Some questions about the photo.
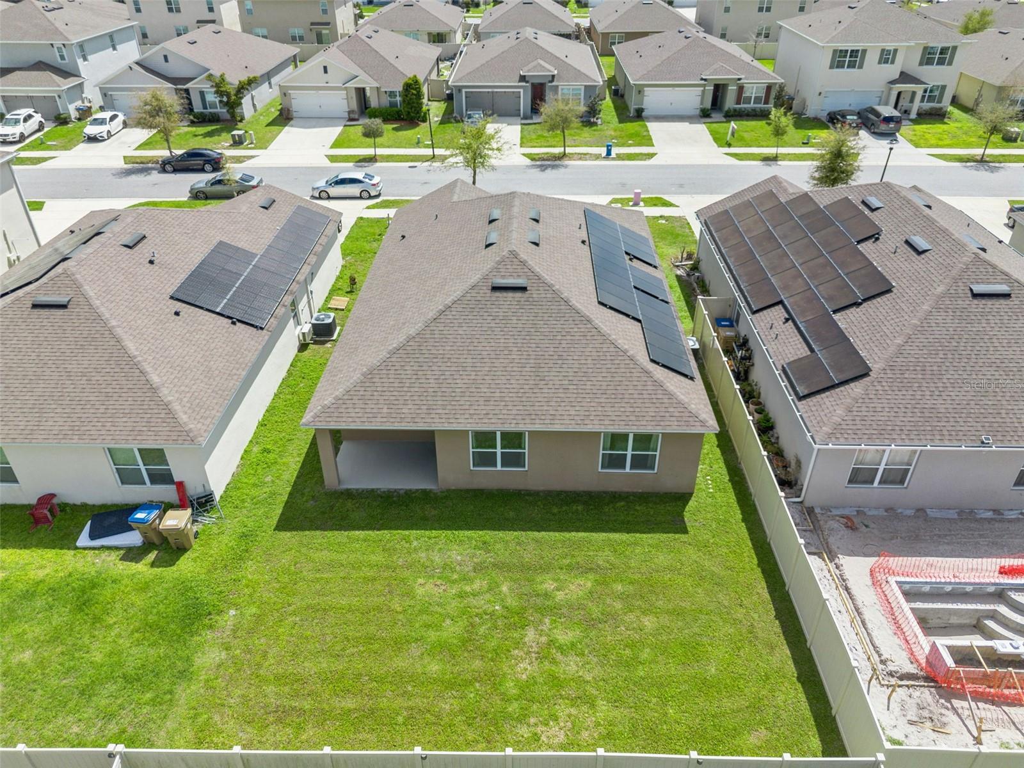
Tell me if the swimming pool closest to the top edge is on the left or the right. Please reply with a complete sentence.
The swimming pool closest to the top edge appears in the right half of the scene.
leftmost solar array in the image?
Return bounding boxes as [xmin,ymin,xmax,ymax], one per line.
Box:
[0,213,121,299]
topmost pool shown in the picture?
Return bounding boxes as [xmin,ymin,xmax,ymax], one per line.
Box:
[880,571,1024,640]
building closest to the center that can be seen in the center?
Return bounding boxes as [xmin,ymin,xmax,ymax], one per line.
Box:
[300,179,720,493]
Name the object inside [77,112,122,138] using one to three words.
car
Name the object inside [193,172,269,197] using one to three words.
car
